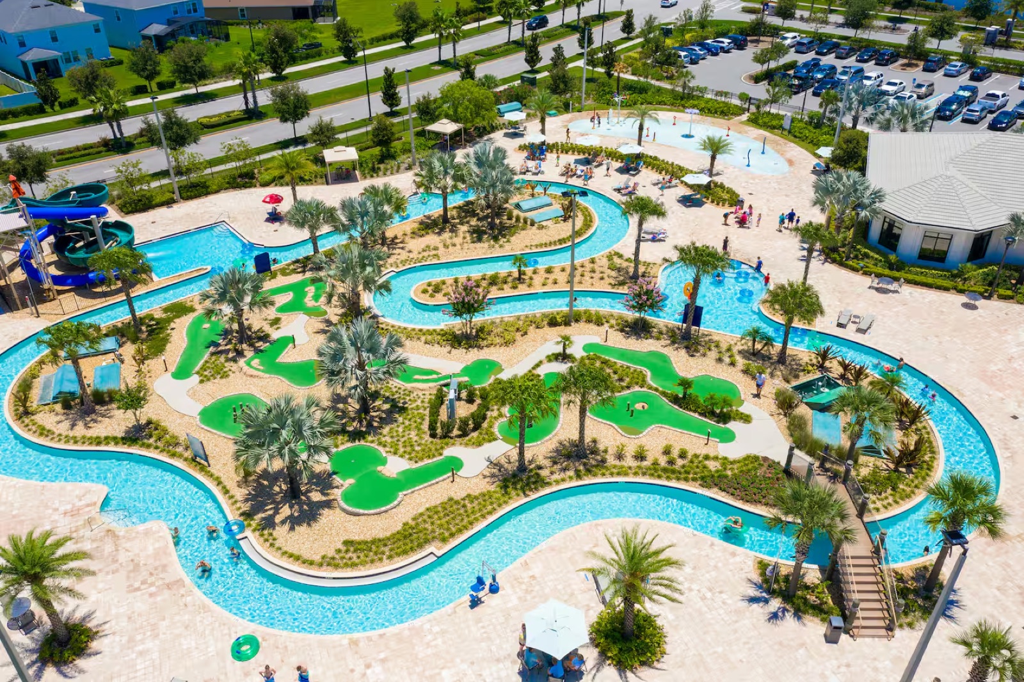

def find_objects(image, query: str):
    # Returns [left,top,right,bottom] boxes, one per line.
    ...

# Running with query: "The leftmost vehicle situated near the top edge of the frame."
[528,13,547,26]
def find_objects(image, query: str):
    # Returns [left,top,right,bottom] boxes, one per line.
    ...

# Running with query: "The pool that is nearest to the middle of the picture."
[0,181,1000,635]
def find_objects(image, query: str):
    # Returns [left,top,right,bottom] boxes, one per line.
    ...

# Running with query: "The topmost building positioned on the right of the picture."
[983,23,1006,44]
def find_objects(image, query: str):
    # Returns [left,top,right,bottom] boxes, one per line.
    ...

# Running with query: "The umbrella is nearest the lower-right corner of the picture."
[523,605,590,663]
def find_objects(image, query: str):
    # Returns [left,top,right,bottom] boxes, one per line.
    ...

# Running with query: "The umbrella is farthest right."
[817,150,843,171]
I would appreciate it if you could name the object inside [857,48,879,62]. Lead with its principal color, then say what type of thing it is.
blue car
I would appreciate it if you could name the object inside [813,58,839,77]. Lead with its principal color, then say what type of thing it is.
blue car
